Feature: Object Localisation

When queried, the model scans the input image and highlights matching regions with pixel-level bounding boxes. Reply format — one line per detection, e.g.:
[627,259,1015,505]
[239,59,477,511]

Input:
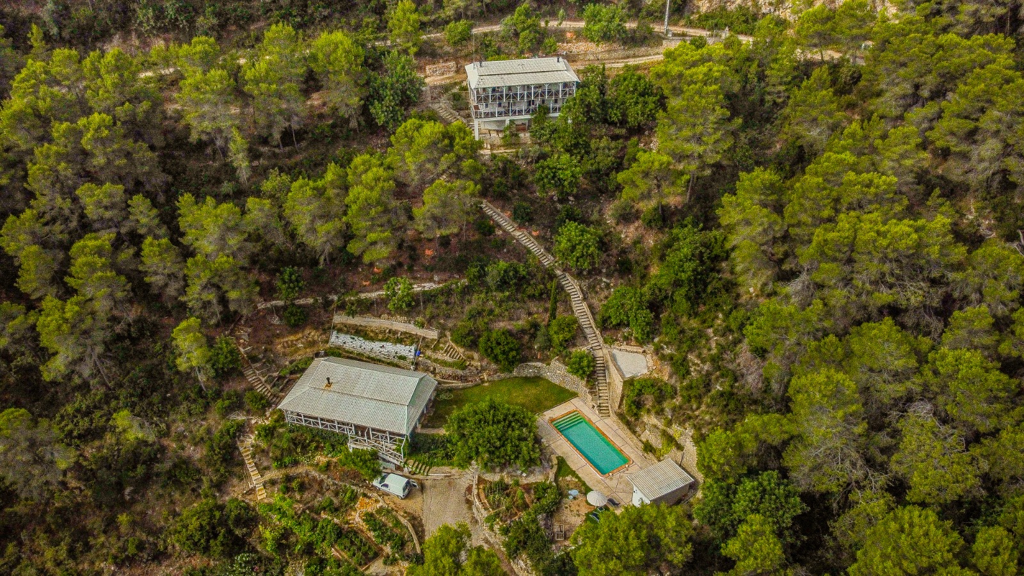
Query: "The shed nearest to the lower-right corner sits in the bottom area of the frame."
[627,459,695,513]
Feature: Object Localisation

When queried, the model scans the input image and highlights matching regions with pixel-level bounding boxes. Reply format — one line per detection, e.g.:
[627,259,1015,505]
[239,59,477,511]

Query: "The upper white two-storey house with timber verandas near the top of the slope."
[468,50,580,136]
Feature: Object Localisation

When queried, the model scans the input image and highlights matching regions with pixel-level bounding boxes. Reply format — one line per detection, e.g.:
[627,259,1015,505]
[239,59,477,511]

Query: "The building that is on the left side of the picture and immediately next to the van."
[278,357,434,471]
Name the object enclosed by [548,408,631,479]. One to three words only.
swimming pool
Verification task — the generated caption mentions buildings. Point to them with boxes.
[468,50,580,136]
[627,459,695,513]
[278,357,434,471]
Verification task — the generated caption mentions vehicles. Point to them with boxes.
[371,470,419,499]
